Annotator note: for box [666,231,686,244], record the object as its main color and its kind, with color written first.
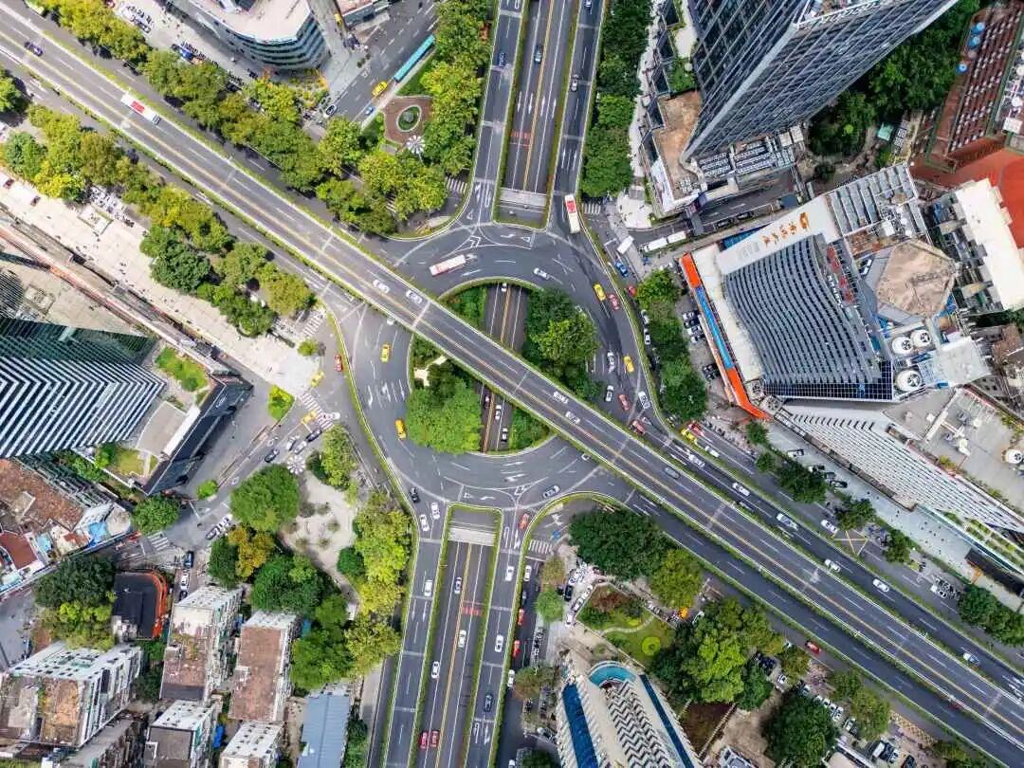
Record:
white vehicle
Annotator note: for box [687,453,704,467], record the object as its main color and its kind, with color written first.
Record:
white car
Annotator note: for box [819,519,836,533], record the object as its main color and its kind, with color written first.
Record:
white car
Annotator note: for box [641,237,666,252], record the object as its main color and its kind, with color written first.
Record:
white vehicle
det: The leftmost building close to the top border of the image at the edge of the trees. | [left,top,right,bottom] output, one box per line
[174,0,329,75]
